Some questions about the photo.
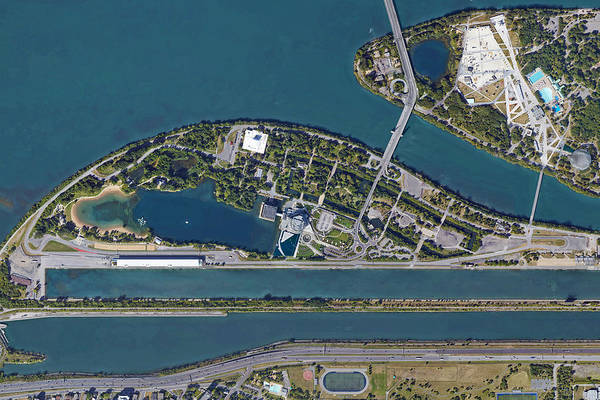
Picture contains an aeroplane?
No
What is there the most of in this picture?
water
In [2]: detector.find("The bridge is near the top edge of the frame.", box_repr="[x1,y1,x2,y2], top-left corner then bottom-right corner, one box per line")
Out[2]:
[382,0,415,155]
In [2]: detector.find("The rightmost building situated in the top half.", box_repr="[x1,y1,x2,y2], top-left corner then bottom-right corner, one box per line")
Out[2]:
[571,149,593,170]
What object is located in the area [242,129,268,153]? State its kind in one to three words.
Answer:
building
